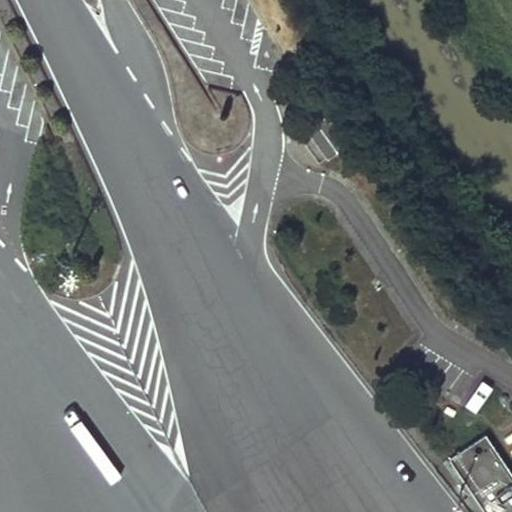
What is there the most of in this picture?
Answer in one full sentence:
Most of the picture is covered by paved ground.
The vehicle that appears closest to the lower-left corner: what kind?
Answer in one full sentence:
I'd say the vehicle that appears closest to the lower-left corner is a truck.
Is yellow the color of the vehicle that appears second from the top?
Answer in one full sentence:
No, the vehicle that appears second from the top is white.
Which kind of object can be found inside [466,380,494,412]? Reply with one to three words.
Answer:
vehicle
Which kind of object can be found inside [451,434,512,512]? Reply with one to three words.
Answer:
building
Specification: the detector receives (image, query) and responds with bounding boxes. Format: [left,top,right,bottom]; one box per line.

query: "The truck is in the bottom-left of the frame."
[63,408,122,486]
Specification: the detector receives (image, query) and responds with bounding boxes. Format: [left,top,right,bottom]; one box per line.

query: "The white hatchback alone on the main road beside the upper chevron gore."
[173,178,189,200]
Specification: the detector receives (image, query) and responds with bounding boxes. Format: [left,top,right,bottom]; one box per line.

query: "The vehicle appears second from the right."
[395,460,412,482]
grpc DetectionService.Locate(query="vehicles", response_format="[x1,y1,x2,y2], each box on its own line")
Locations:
[466,380,494,412]
[395,460,412,482]
[63,408,122,486]
[173,178,189,200]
